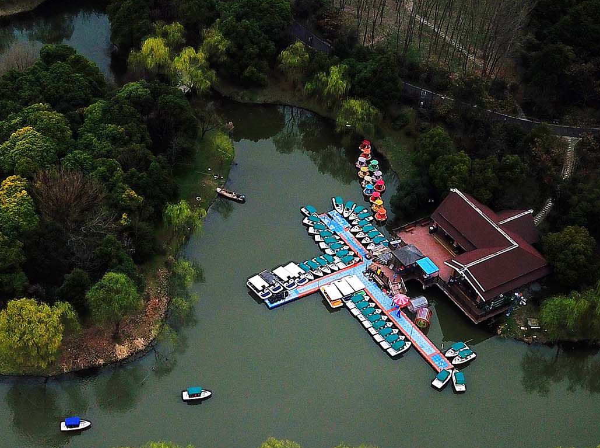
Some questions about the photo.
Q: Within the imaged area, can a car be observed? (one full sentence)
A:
No, I can see no car in this picture.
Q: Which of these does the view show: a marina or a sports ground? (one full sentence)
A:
This image shows a marina.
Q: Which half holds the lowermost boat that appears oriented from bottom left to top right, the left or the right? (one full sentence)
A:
It is on the right.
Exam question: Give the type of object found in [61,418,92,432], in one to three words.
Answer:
boat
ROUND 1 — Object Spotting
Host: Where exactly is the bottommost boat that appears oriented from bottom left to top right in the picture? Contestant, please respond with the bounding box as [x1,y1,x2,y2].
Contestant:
[430,368,452,390]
